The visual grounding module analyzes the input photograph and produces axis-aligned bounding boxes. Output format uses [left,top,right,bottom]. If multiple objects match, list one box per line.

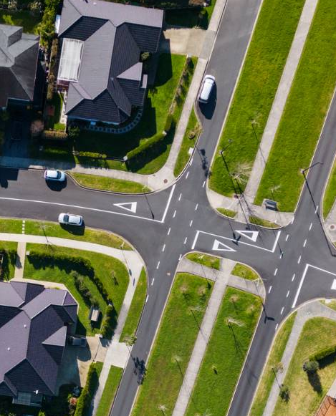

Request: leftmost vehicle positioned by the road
[42,170,67,182]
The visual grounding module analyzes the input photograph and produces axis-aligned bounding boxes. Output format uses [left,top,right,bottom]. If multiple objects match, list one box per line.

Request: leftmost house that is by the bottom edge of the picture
[0,280,79,396]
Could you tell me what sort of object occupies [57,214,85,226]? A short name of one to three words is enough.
vehicle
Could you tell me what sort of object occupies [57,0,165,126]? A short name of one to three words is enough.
house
